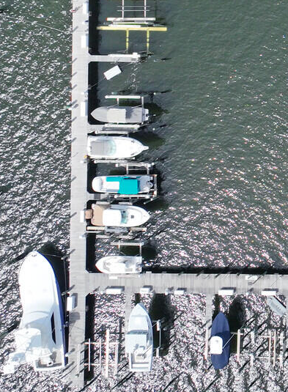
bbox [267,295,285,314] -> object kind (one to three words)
boat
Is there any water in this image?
Yes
